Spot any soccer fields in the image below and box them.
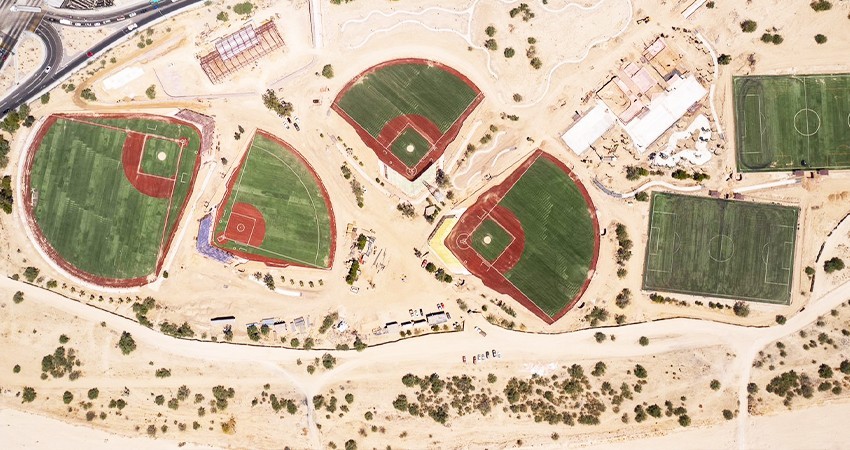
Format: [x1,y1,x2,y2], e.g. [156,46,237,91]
[732,72,850,173]
[642,192,799,305]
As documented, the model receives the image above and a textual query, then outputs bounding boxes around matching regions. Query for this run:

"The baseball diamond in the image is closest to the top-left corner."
[25,113,202,288]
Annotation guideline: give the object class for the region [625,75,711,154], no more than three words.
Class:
building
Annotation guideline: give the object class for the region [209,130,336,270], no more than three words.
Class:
baseball field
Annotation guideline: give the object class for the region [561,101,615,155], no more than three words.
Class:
building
